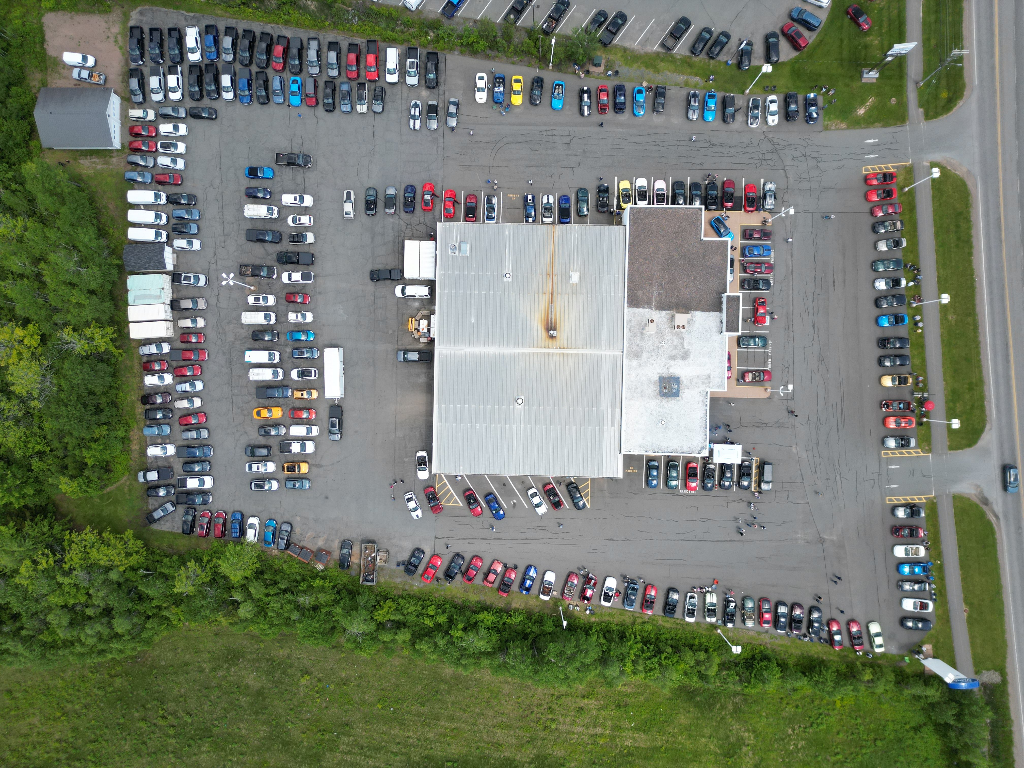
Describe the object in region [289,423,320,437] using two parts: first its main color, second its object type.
white vehicle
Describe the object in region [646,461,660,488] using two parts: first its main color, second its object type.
blue car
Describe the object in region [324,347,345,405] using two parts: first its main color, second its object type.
white trailer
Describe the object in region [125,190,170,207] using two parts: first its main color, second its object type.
white vehicle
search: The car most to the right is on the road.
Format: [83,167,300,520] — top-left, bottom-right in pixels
[1002,464,1021,493]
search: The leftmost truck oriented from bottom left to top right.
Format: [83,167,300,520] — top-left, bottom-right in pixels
[145,500,179,526]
